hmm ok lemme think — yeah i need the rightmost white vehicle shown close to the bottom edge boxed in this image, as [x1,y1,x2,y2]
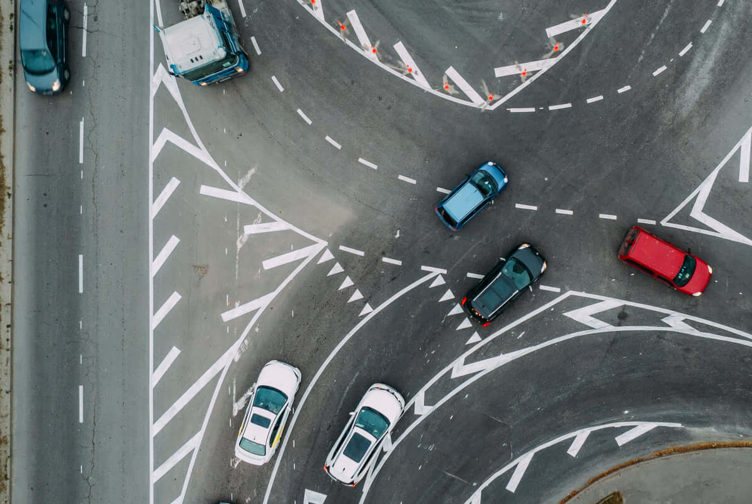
[324,383,404,486]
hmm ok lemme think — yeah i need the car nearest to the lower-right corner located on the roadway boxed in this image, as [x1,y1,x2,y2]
[462,241,548,327]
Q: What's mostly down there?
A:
paved ground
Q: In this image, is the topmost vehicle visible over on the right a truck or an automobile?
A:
automobile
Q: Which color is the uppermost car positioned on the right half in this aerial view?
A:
blue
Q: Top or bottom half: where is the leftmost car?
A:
top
